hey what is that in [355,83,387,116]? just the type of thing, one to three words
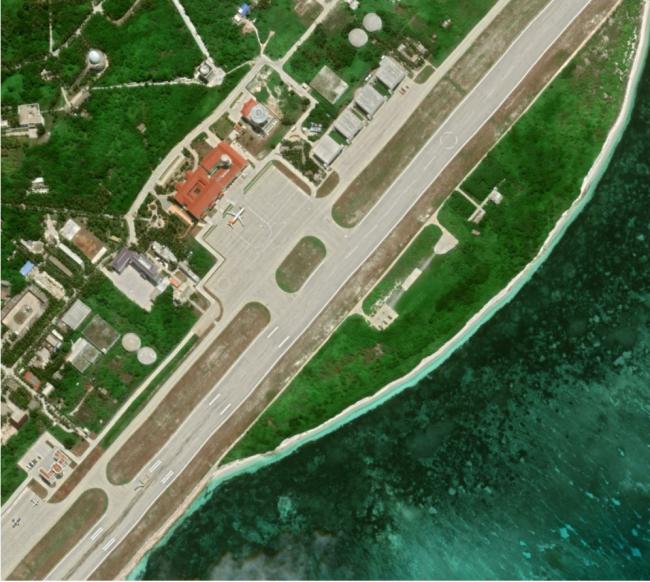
hangar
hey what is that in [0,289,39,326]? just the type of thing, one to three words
building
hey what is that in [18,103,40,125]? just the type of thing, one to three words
house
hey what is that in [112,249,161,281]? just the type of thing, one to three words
building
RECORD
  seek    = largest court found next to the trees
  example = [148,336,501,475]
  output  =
[309,65,350,105]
